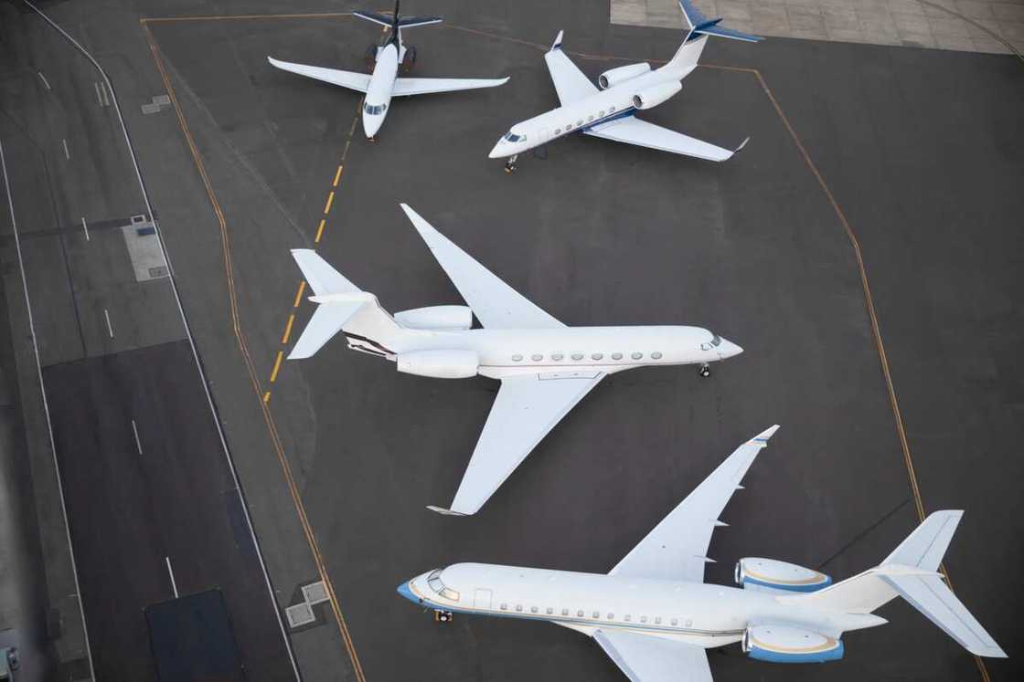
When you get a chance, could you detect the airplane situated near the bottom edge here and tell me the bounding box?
[397,425,1007,682]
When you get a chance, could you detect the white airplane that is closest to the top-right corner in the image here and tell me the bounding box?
[489,0,764,171]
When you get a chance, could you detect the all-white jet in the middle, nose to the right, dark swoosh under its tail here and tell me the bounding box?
[287,204,744,514]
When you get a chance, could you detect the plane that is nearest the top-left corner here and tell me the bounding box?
[269,0,511,144]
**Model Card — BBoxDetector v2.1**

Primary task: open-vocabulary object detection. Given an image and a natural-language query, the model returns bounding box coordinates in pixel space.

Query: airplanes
[489,0,764,171]
[269,0,511,144]
[397,425,1007,682]
[287,204,744,514]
